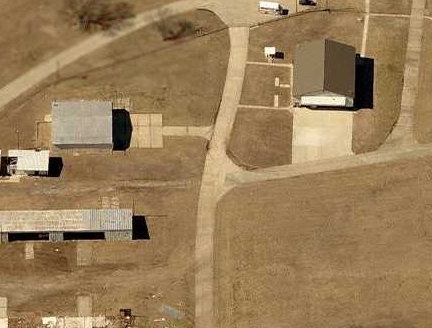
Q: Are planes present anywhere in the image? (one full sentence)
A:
No, no plane can be seen from above.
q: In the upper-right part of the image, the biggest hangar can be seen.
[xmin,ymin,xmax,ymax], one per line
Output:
[292,38,355,108]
